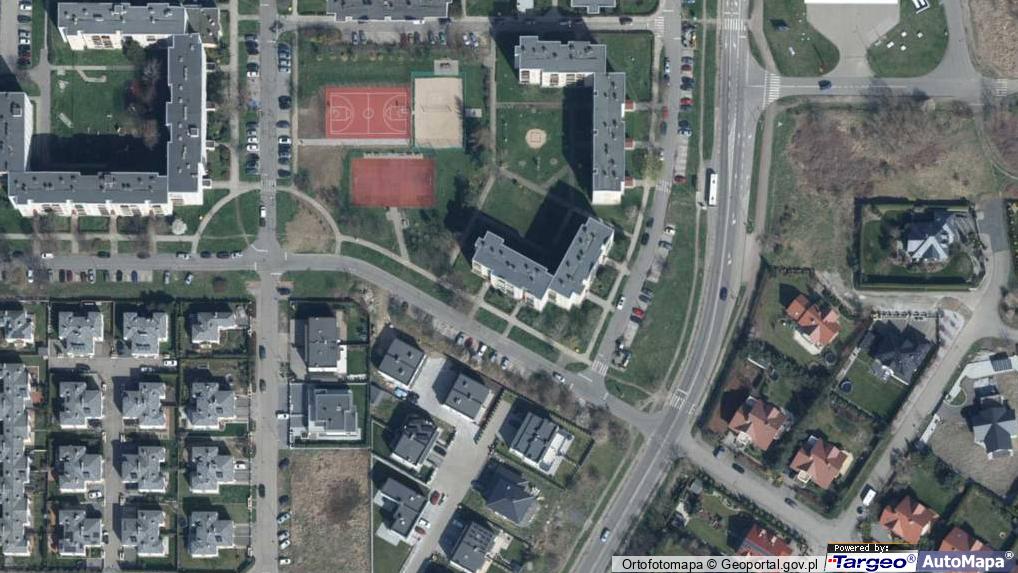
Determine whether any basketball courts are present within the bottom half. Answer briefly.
No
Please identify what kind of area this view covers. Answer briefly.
residential area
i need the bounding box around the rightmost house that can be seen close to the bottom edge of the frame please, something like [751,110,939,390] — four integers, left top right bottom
[928,524,987,573]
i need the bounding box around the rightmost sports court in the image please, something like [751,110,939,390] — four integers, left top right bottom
[413,74,465,149]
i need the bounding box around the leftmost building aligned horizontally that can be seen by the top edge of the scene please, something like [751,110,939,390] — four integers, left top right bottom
[58,2,189,51]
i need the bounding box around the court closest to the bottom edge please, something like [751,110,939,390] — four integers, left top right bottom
[352,158,435,208]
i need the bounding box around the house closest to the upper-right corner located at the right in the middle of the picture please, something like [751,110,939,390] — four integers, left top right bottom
[907,212,956,265]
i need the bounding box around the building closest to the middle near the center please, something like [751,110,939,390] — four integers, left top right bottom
[472,232,555,308]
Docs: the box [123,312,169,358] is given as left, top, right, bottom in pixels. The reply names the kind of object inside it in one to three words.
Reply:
house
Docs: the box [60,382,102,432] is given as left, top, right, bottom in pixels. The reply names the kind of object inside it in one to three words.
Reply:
house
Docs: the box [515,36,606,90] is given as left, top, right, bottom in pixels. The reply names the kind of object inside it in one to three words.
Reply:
building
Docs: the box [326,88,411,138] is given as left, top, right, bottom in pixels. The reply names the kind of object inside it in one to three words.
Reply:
basketball court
